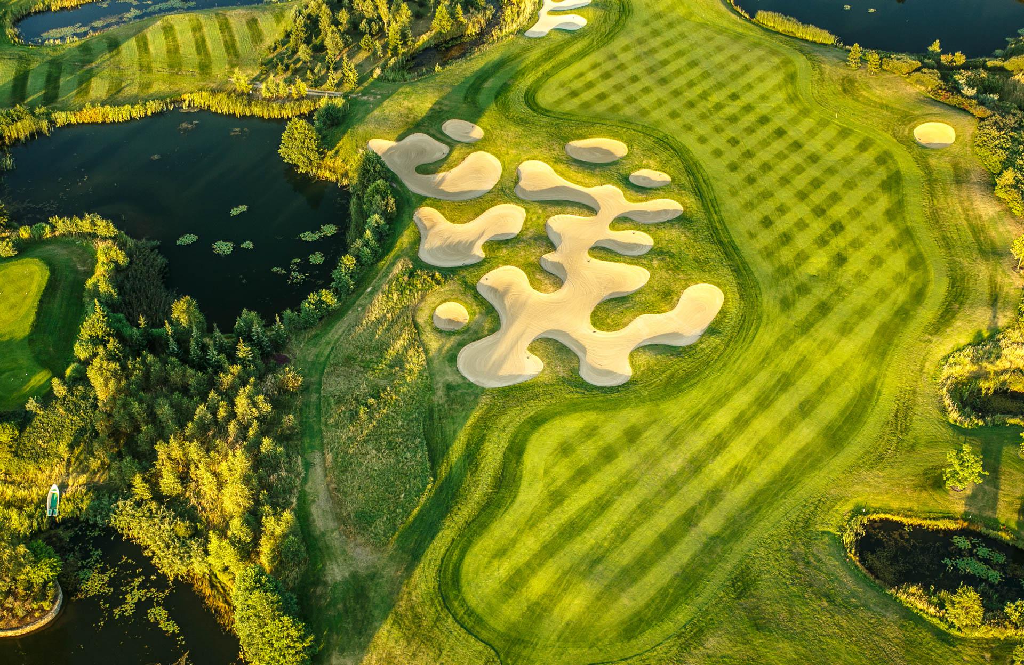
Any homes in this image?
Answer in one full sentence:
No, there isn't any home down there.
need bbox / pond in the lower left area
[0,524,239,665]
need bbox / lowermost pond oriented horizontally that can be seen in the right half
[855,518,1024,619]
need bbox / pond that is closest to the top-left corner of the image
[14,0,285,45]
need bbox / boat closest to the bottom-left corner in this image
[45,484,59,518]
